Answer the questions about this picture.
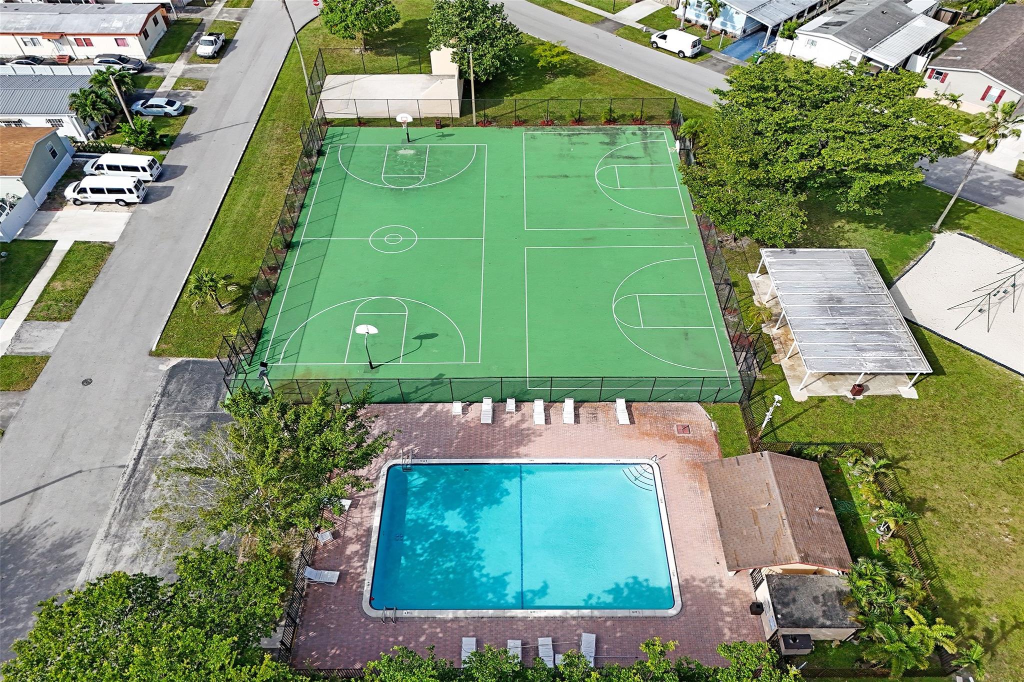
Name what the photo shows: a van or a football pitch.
van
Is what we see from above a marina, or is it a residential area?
residential area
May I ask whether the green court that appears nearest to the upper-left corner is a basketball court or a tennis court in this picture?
basketball court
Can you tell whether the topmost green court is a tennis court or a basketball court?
basketball court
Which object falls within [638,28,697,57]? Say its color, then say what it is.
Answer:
white van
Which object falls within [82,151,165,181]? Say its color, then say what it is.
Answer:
white van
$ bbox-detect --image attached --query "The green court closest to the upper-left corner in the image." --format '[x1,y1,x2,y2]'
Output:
[246,125,506,403]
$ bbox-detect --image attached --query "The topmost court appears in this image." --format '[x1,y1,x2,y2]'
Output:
[314,39,465,117]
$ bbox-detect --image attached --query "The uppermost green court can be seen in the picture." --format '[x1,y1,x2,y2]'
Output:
[505,125,699,237]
